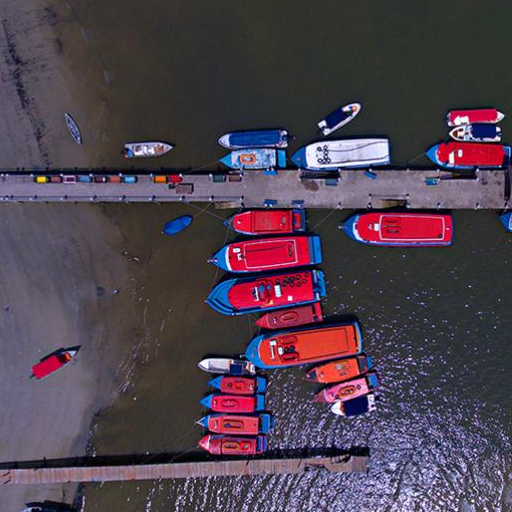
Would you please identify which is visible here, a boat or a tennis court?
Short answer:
boat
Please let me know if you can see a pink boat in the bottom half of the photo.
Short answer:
Yes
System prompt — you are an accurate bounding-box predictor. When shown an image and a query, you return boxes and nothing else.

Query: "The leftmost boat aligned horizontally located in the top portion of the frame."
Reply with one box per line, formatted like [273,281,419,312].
[122,140,174,157]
